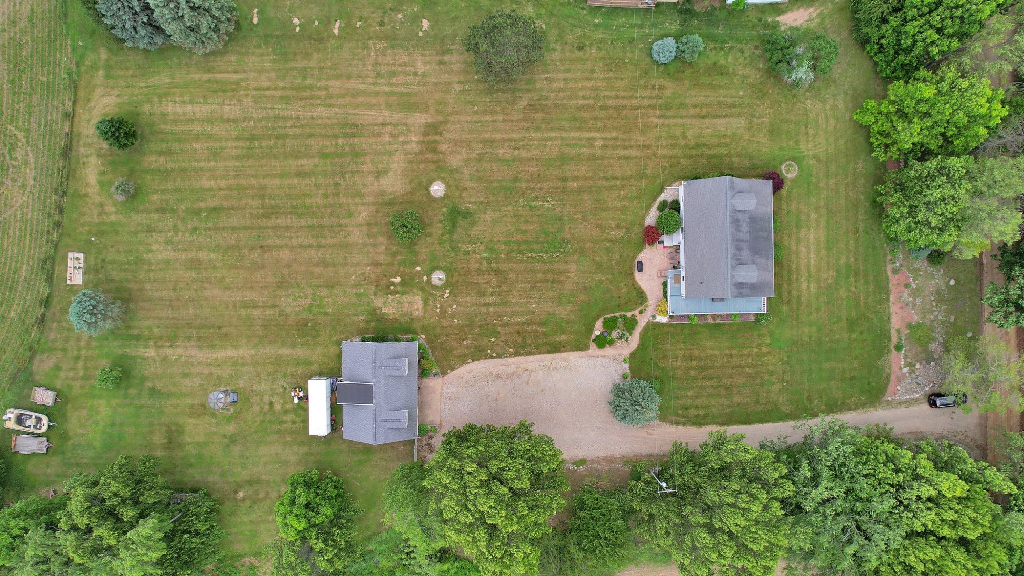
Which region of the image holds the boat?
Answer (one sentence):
The boat is in the bottom left part of the image.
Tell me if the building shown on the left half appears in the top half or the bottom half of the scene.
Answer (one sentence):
You can find the building shown on the left half in the bottom half.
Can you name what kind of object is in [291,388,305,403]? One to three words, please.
work vehicle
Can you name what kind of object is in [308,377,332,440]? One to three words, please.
trailer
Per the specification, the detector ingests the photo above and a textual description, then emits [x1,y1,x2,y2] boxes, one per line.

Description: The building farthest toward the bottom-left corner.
[336,341,423,445]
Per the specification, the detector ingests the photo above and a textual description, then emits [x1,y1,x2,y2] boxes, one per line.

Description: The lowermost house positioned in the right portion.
[659,175,775,315]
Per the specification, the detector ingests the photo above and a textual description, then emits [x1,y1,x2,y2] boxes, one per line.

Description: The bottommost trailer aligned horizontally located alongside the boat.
[9,432,56,455]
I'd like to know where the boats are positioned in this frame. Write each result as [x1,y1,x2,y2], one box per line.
[0,409,57,431]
